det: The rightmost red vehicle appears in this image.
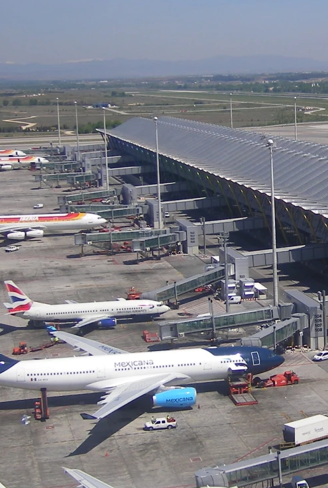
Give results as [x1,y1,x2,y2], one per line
[255,368,299,389]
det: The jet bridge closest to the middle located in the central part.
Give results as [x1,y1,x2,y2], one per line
[131,232,189,261]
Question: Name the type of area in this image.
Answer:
airport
